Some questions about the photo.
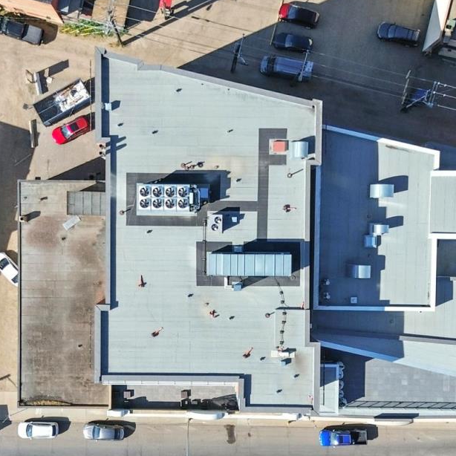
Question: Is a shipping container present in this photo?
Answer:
Yes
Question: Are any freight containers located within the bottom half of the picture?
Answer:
No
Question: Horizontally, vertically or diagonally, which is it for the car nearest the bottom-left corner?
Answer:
horizontally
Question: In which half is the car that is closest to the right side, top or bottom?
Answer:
top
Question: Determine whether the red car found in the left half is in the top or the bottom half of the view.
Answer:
top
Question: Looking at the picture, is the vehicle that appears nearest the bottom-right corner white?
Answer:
No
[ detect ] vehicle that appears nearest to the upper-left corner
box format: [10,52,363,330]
[0,15,44,44]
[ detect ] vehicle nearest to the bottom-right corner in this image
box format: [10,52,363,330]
[319,428,368,449]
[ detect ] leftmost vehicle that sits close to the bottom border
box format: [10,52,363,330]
[19,420,59,441]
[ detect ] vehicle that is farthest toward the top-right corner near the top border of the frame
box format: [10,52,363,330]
[377,22,421,45]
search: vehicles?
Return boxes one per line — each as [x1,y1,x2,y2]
[278,5,320,27]
[319,428,368,449]
[0,252,19,291]
[273,31,313,53]
[52,115,91,144]
[85,422,125,442]
[261,53,313,79]
[19,420,59,441]
[377,22,421,45]
[0,15,44,44]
